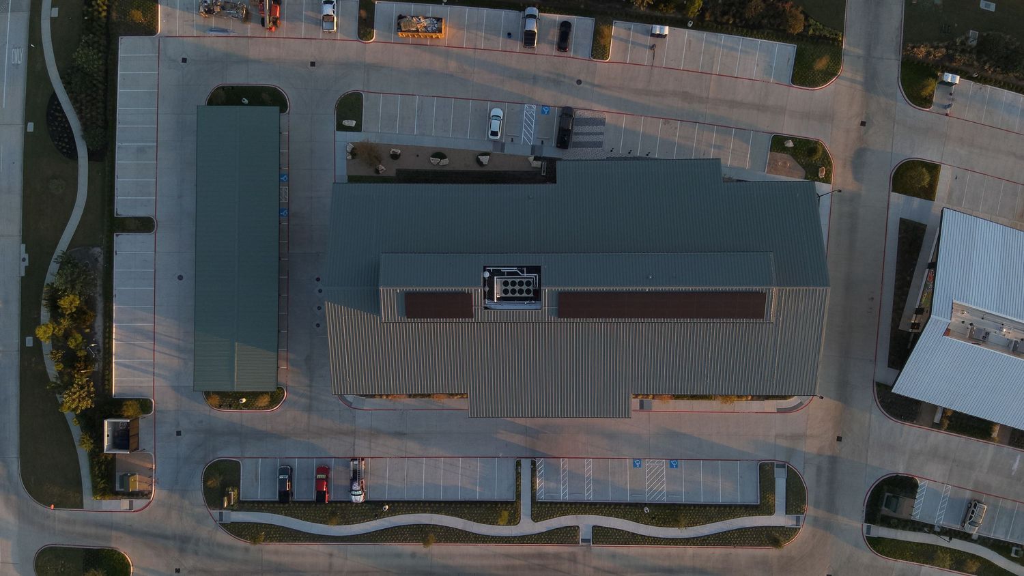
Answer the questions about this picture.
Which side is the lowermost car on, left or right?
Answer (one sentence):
It is on the right.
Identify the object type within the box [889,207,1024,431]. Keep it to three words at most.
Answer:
building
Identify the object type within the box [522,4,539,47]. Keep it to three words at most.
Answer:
vehicle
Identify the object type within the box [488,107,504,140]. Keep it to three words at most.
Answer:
car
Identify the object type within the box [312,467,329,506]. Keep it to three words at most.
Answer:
vehicle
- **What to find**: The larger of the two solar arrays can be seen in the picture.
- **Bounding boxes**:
[558,291,766,319]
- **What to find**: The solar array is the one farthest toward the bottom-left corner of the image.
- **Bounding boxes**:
[405,291,473,319]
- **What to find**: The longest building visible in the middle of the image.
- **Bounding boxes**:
[323,158,832,419]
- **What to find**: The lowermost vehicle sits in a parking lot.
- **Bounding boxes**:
[966,501,991,536]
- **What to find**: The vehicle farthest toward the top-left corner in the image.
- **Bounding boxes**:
[257,0,280,33]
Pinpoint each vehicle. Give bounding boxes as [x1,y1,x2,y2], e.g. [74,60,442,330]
[557,18,573,51]
[522,4,539,47]
[312,467,329,506]
[966,501,991,536]
[319,0,337,30]
[257,0,280,33]
[557,106,575,148]
[273,467,291,506]
[488,107,504,140]
[346,460,365,504]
